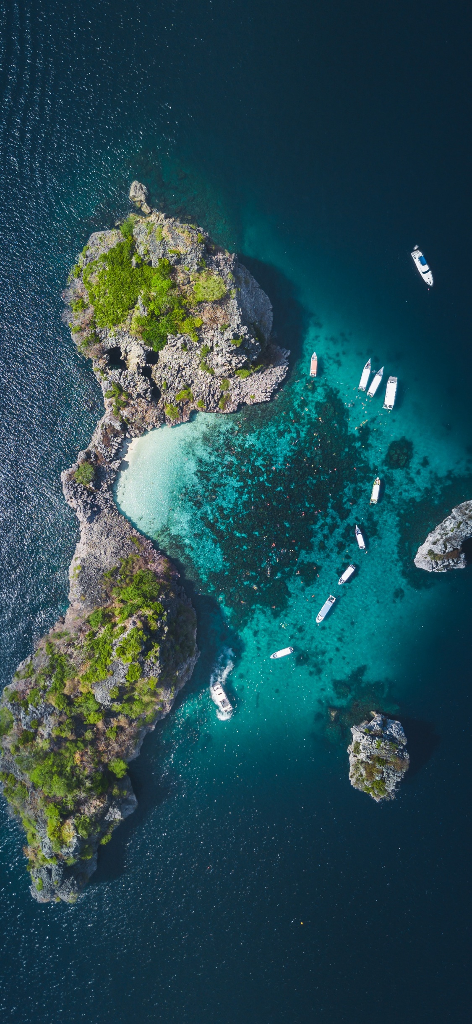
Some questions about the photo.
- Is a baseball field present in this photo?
No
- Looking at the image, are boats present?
Yes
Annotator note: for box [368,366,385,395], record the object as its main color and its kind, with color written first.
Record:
white boat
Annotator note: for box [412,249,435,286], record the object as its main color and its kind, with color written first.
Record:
white boat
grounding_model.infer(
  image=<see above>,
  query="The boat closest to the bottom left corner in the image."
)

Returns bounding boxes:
[215,683,233,712]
